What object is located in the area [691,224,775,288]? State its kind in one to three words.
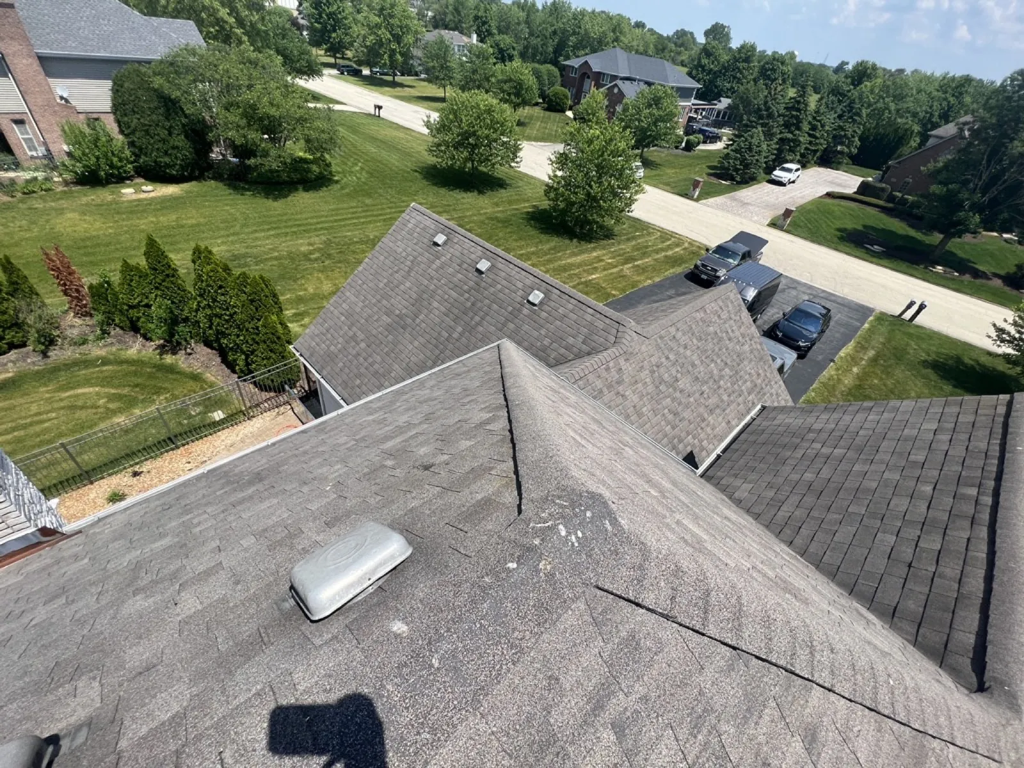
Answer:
truck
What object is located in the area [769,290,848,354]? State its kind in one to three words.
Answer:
car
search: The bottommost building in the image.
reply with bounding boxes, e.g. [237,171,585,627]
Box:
[0,204,1024,768]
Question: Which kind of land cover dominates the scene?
buildings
